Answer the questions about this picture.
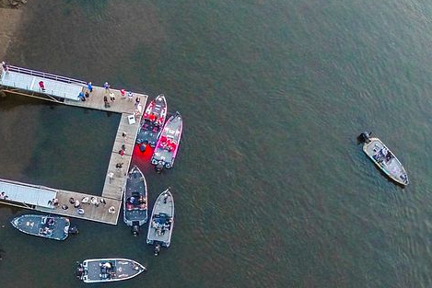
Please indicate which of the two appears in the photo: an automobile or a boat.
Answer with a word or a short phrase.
boat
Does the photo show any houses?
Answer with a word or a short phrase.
No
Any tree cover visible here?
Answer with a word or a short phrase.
No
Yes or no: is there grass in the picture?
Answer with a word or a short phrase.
No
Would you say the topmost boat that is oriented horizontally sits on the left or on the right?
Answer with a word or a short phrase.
left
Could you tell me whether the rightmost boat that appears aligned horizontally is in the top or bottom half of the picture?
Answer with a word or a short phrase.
bottom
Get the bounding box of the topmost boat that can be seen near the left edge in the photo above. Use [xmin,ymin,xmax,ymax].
[11,214,75,239]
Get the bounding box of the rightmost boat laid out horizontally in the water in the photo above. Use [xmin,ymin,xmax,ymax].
[75,258,145,282]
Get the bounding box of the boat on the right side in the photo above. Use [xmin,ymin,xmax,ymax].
[357,131,408,186]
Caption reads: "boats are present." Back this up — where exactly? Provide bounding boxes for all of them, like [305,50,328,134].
[124,166,147,232]
[357,131,408,186]
[75,258,145,282]
[149,186,175,253]
[138,94,165,152]
[154,113,183,173]
[11,214,75,239]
